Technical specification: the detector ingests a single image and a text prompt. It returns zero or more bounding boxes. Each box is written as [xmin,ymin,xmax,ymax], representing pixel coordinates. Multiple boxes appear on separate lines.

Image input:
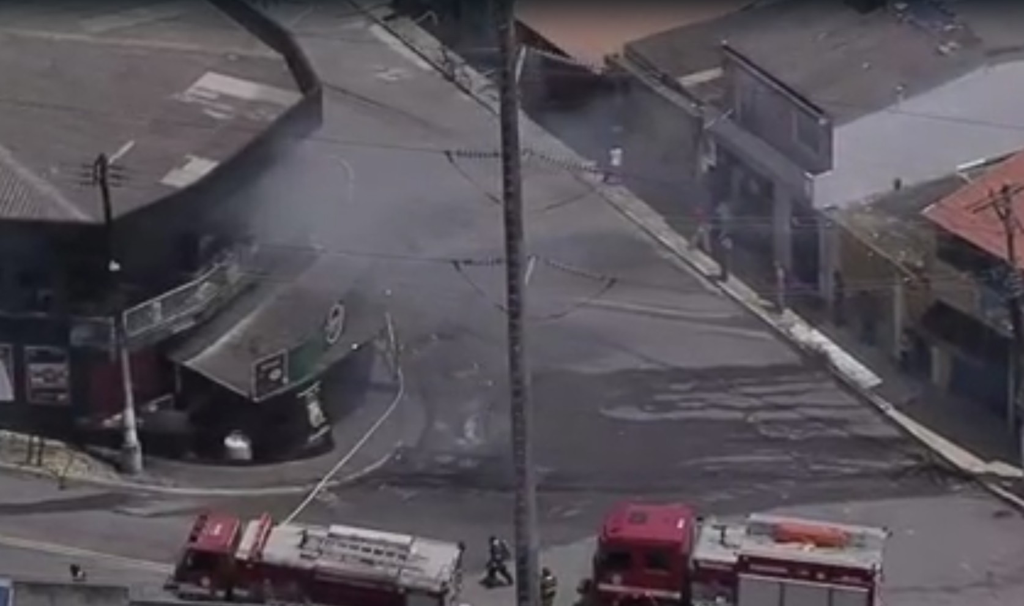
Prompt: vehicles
[587,499,893,606]
[158,511,469,606]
